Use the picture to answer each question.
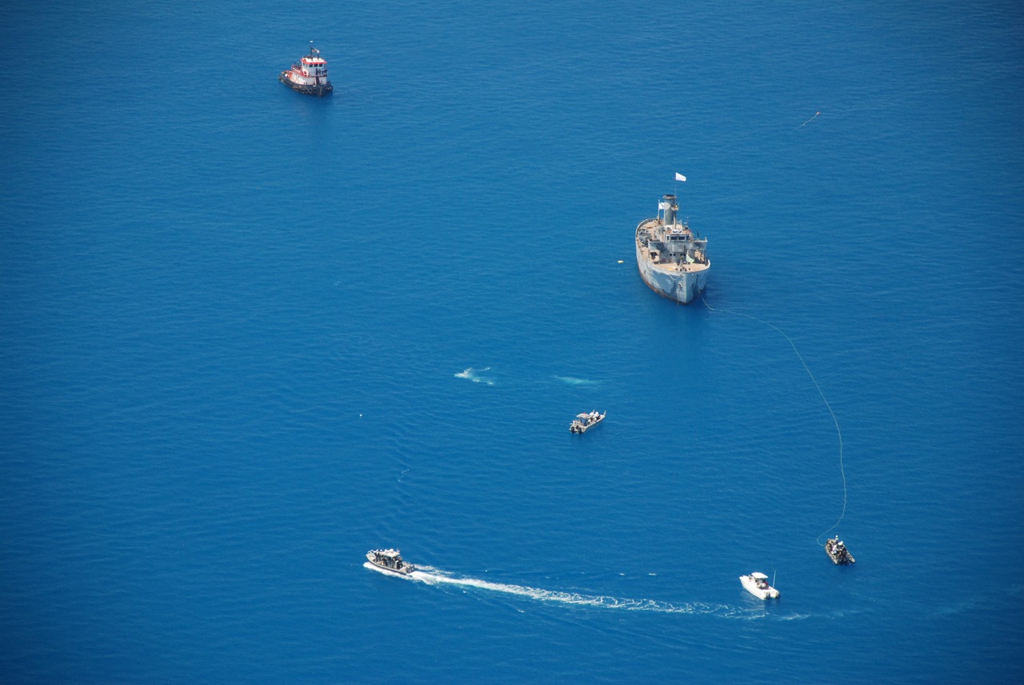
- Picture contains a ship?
Yes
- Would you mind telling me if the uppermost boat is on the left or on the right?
left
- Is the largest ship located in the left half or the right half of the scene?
right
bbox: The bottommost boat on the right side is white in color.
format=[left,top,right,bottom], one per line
[738,573,779,600]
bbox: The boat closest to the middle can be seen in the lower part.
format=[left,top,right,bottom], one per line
[569,409,605,434]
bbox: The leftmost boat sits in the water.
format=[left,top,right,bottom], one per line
[282,48,333,95]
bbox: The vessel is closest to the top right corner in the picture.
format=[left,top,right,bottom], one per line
[636,173,712,303]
